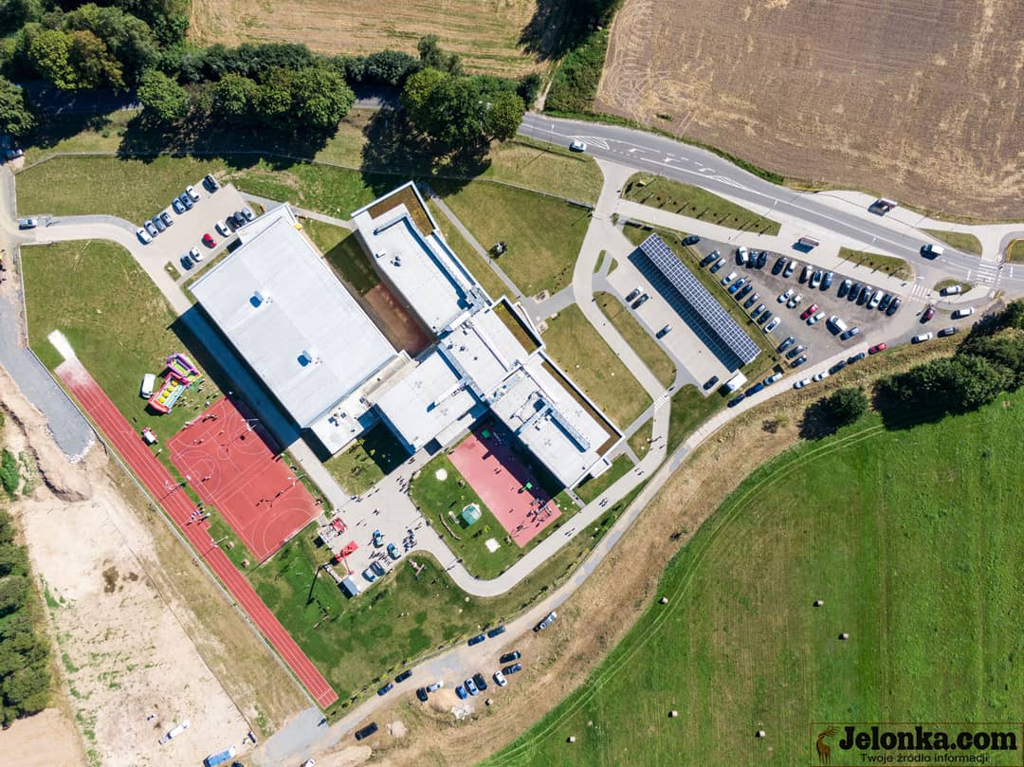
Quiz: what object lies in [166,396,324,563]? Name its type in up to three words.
sports court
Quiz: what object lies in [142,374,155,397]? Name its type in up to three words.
vehicle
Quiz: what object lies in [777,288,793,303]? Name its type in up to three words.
car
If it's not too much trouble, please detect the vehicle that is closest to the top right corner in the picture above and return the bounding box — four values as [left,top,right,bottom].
[919,243,949,258]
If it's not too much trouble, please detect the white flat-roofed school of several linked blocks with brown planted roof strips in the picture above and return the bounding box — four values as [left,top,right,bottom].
[311,180,626,491]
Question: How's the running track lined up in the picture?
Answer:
diagonally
